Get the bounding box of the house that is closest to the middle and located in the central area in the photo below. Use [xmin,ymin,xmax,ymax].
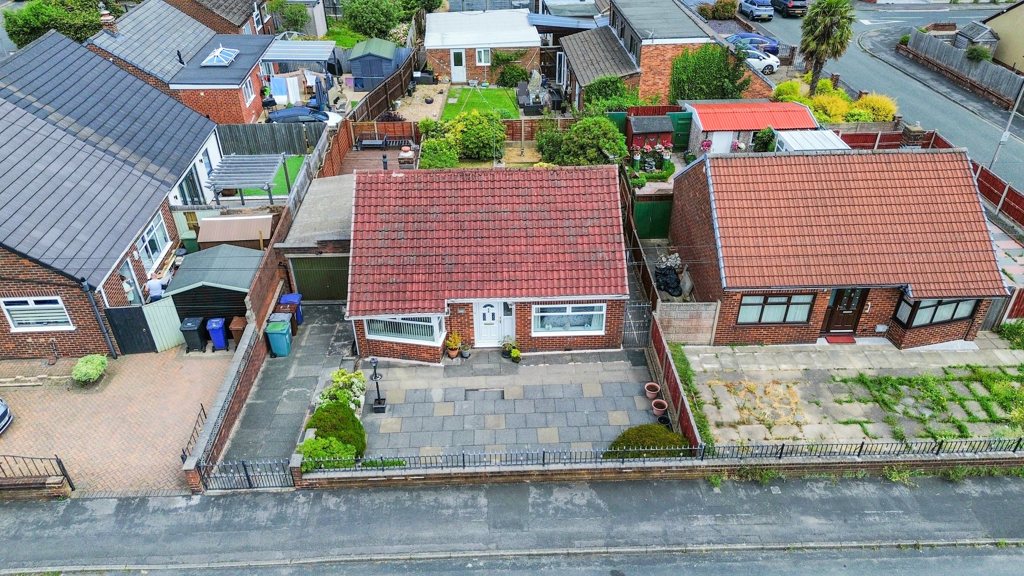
[344,144,632,361]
